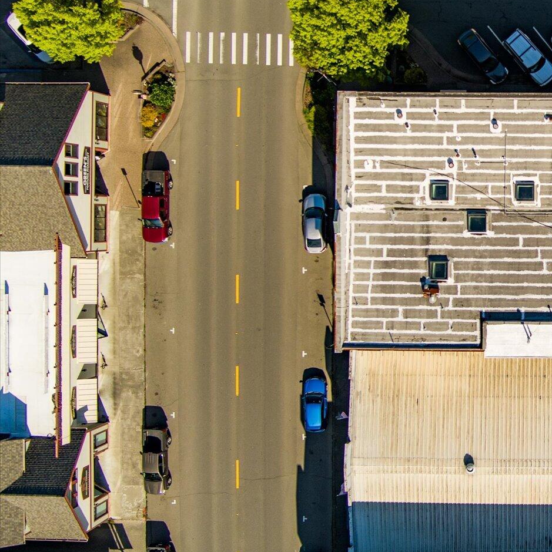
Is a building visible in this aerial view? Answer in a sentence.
Yes, I can see a building in this picture.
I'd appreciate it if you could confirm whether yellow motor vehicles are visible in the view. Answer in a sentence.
No, there isn't any yellow motor vehicle down there.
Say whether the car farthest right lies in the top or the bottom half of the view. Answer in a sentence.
Seen from above, the car farthest right lies in the top half of the view.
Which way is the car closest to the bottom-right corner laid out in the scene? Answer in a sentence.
I'd say the car closest to the bottom-right corner is aligned from top to bottom in the picture.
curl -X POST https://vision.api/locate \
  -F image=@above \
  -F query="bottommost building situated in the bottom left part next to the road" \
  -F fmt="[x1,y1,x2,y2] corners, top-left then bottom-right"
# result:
[0,423,109,551]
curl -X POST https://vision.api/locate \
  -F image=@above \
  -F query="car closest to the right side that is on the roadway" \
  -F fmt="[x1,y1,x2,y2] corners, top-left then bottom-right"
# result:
[504,25,552,90]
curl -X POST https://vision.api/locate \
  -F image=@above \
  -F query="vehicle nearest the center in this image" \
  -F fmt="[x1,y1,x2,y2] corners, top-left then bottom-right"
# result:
[300,193,328,254]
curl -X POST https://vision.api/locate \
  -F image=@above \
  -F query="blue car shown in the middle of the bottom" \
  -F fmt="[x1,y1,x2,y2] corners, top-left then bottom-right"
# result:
[300,375,328,434]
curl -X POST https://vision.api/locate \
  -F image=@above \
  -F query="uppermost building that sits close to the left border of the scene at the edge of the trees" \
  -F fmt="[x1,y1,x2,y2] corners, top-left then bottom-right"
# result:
[0,83,110,254]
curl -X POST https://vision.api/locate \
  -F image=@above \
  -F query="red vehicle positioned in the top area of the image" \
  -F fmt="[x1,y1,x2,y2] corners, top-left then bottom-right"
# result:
[139,169,173,243]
